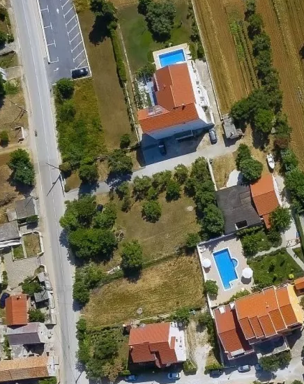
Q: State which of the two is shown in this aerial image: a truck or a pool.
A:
pool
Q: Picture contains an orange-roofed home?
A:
Yes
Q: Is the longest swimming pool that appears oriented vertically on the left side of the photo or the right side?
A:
right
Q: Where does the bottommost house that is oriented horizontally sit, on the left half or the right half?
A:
left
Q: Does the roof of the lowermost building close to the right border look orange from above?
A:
Yes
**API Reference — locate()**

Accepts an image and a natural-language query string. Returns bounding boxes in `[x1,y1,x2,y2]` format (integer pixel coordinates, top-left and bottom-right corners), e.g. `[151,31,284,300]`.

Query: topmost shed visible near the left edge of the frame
[8,197,43,221]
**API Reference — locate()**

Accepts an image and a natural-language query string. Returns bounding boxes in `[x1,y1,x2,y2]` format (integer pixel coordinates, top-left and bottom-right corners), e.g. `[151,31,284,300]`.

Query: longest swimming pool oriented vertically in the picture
[212,247,239,292]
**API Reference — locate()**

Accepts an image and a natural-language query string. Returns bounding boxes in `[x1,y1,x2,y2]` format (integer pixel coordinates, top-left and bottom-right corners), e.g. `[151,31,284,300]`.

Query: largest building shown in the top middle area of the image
[137,65,218,140]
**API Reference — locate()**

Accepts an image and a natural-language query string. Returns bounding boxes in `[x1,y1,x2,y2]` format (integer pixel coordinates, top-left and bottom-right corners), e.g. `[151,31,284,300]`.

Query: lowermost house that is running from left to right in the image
[0,356,59,382]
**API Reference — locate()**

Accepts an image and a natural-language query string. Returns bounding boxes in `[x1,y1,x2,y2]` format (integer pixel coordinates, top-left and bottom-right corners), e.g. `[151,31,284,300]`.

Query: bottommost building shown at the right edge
[214,284,304,357]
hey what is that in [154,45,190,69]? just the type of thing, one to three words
swimming pool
